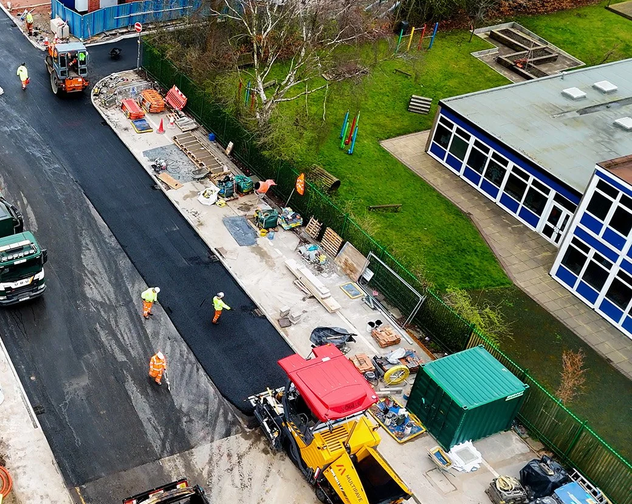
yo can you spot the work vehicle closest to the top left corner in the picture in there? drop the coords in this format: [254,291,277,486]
[44,40,90,94]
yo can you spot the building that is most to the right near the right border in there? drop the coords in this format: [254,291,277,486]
[548,149,632,337]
